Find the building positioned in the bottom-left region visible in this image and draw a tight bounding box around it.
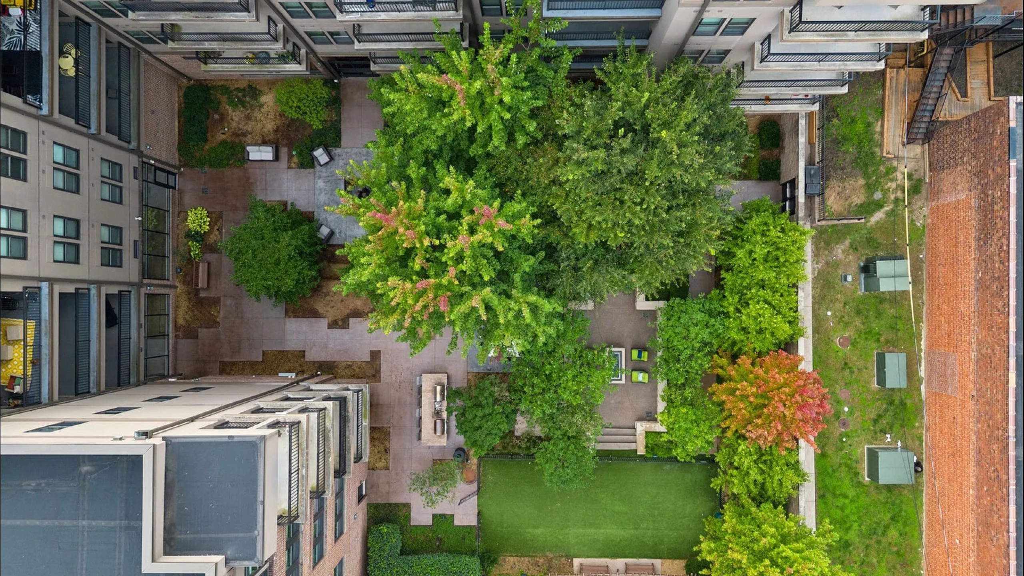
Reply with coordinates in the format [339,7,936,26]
[0,370,370,576]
